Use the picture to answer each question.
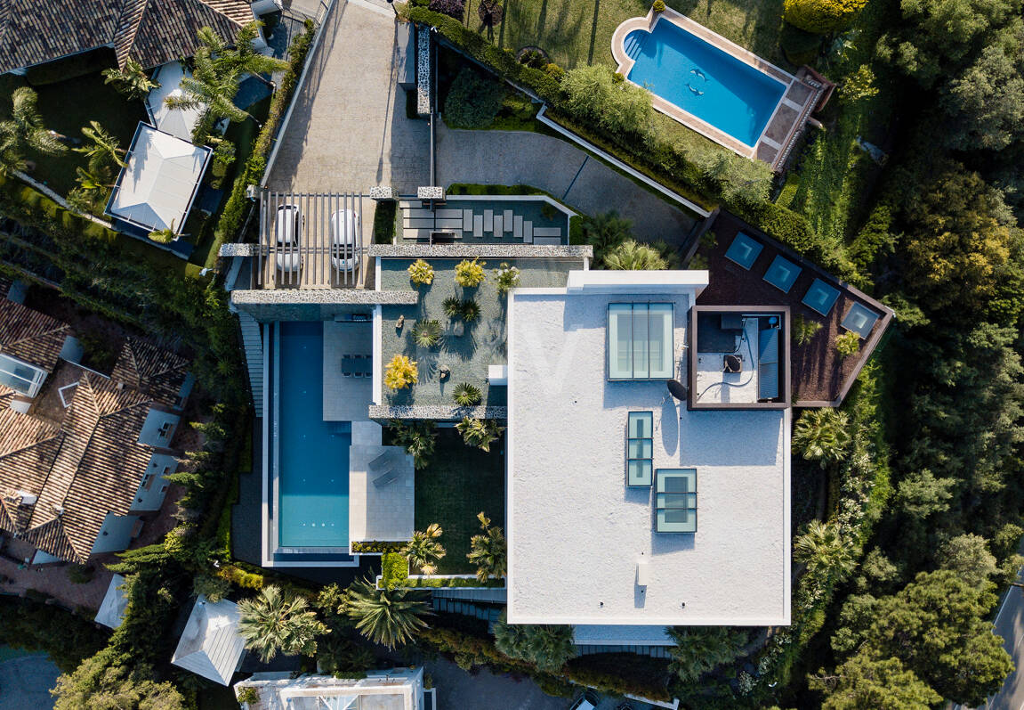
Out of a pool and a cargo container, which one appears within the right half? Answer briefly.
pool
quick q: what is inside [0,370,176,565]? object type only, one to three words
house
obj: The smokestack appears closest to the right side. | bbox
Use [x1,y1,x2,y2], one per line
[488,366,507,386]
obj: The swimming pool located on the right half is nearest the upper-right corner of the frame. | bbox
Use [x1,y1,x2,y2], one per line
[606,0,799,158]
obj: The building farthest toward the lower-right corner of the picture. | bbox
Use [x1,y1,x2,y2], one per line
[502,271,791,644]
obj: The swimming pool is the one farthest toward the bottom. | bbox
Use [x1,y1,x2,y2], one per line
[263,320,366,565]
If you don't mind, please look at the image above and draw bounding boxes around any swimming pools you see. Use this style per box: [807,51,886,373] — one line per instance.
[263,320,366,565]
[606,0,799,158]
